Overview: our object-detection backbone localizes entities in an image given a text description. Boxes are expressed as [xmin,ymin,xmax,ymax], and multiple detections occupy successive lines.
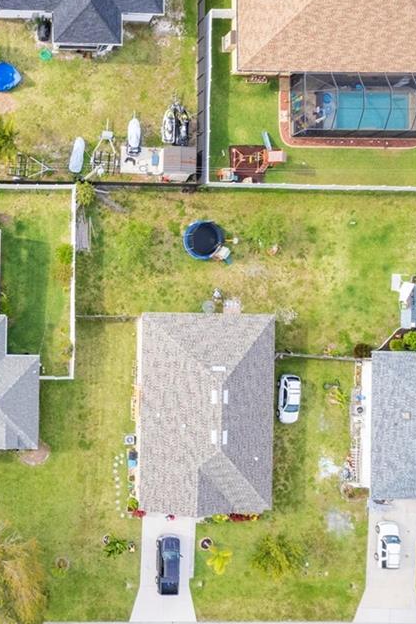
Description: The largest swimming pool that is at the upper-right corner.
[334,88,413,130]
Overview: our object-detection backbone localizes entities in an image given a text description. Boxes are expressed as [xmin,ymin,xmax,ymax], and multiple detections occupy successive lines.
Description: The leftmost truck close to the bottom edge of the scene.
[156,533,183,596]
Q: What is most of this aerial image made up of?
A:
grass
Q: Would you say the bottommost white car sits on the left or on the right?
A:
right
